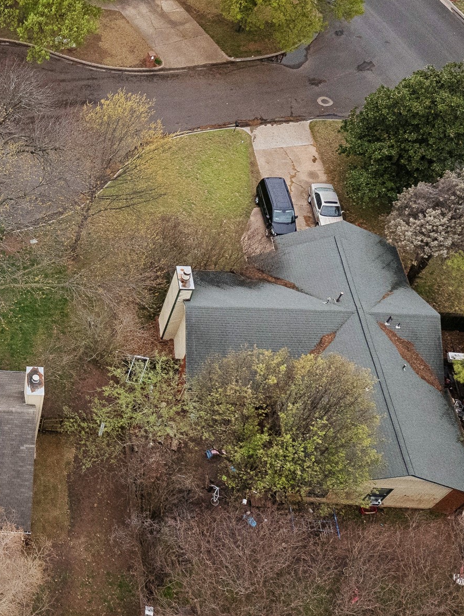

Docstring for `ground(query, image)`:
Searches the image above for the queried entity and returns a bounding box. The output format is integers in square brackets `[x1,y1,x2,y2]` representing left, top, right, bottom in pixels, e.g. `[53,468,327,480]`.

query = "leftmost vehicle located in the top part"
[257,173,301,236]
